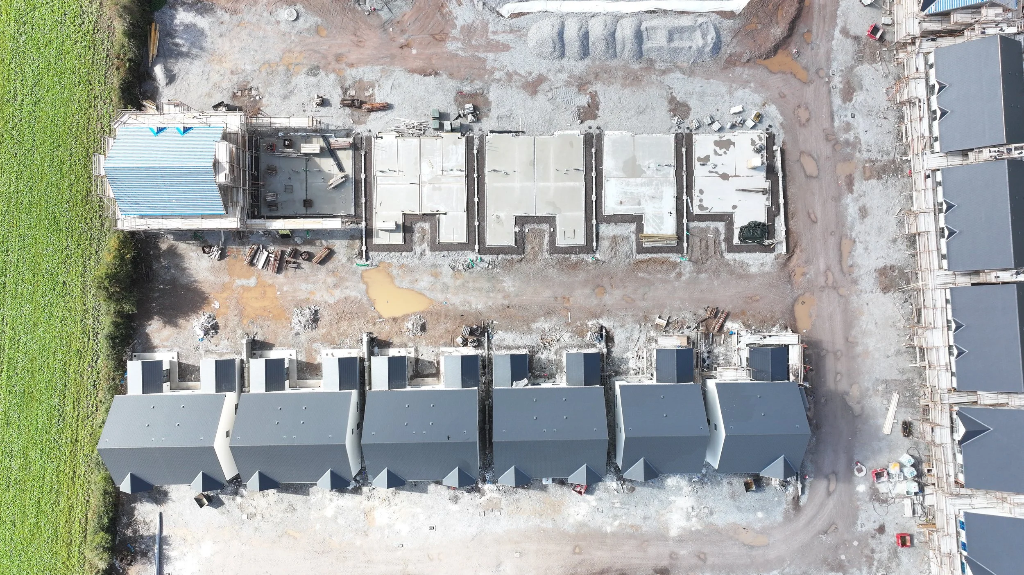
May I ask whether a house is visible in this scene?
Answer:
Yes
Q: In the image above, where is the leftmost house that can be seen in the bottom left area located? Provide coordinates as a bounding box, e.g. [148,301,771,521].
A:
[95,358,241,494]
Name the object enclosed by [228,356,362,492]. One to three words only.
house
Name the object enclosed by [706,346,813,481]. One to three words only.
house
